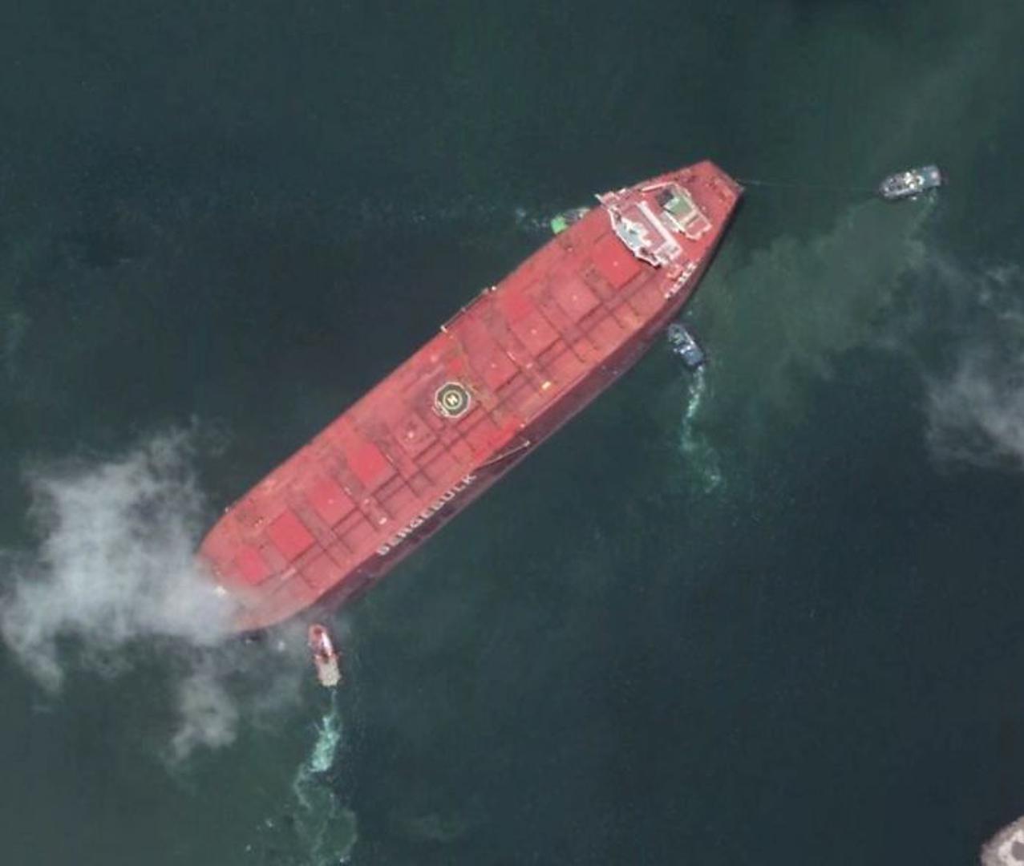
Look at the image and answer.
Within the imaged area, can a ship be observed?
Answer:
Yes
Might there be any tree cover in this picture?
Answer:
No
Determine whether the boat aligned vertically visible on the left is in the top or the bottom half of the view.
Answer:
bottom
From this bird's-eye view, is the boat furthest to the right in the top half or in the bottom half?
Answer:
top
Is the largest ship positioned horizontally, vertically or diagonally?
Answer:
diagonally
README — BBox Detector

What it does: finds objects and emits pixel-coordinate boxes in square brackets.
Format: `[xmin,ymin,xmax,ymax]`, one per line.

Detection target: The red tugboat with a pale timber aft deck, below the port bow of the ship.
[308,623,341,690]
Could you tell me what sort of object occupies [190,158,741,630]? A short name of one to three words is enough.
ship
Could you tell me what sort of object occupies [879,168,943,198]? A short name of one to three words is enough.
boat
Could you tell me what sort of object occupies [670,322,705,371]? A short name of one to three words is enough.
boat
